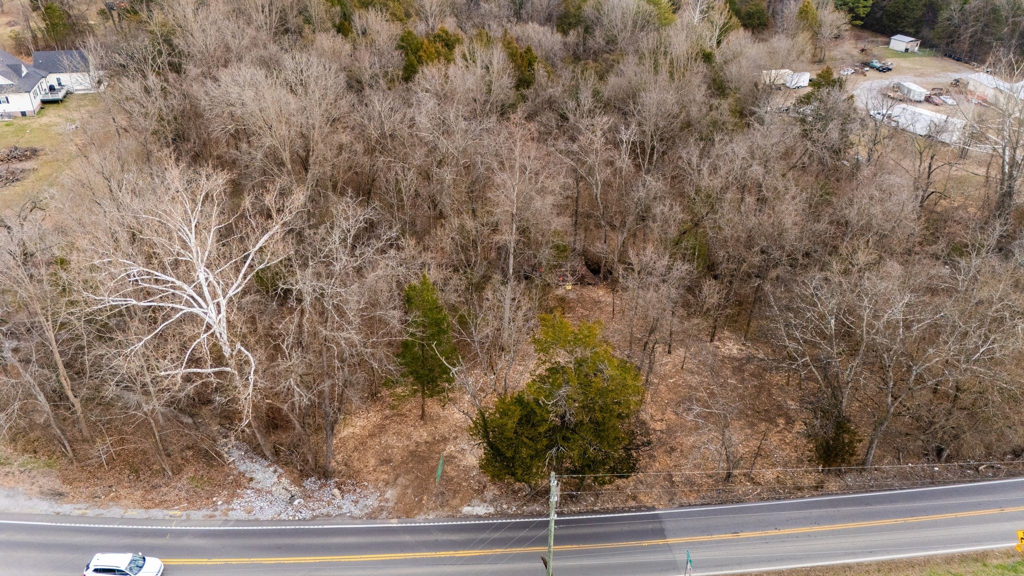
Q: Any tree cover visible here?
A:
Yes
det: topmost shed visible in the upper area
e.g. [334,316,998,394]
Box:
[889,30,930,53]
